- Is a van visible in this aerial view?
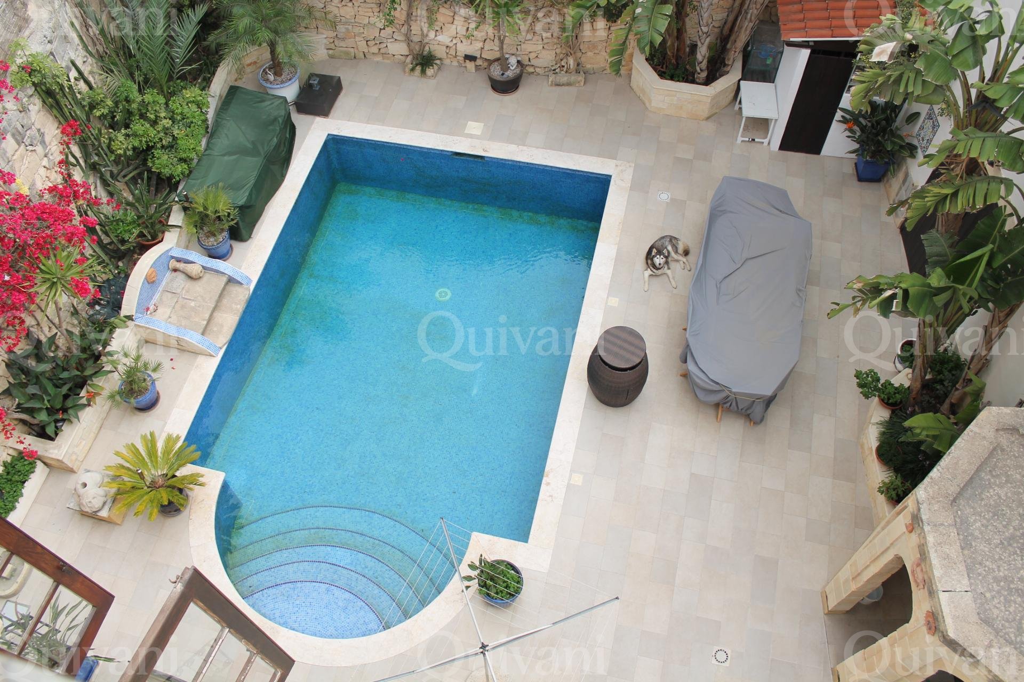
No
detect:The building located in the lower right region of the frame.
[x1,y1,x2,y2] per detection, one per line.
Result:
[823,401,1024,682]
